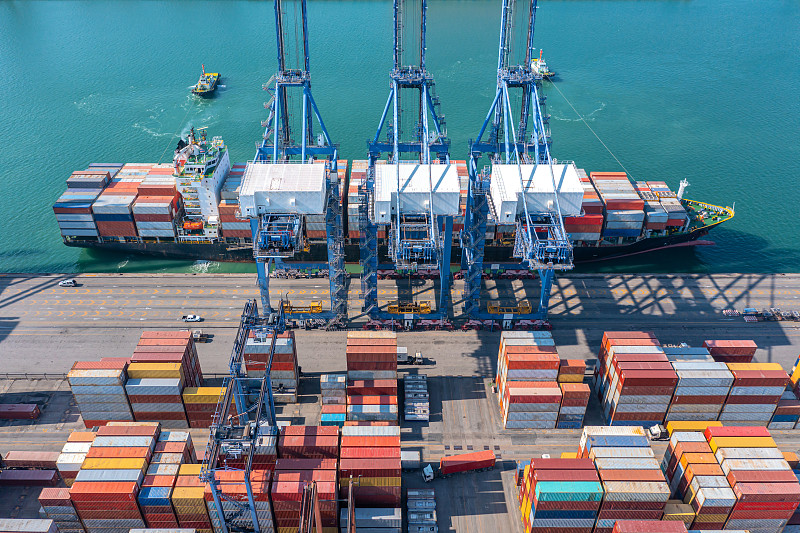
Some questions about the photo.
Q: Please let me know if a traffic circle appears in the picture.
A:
No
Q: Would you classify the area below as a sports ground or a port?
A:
port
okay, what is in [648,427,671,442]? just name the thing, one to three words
vehicle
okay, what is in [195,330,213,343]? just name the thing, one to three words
vehicle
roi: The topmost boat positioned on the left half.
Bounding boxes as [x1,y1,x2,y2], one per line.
[188,60,226,98]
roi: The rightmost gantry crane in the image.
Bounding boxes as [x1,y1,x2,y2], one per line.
[455,0,587,328]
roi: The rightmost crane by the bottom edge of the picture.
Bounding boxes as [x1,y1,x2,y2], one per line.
[293,489,351,533]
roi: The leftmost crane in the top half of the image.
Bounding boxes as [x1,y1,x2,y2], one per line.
[234,0,352,328]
